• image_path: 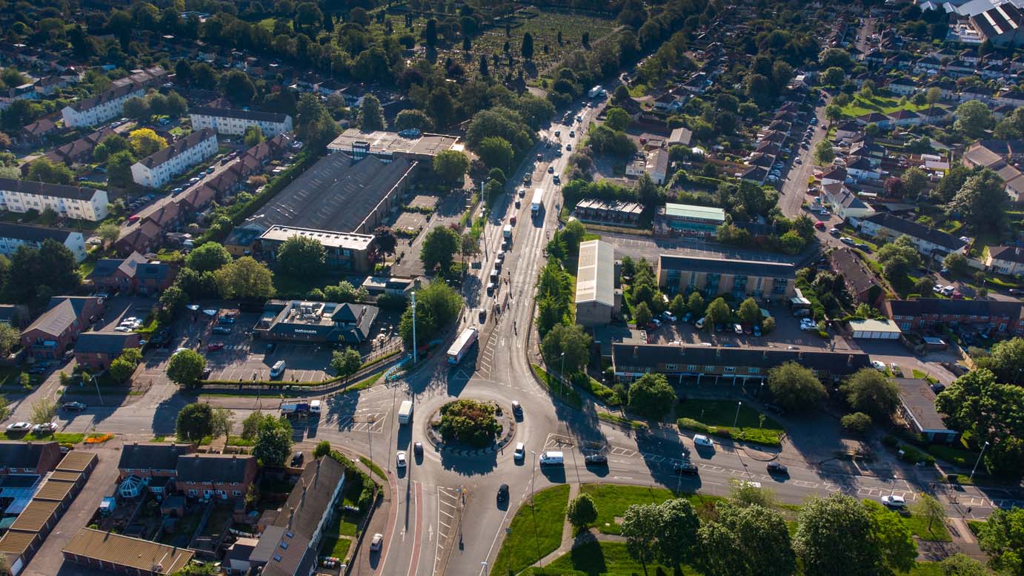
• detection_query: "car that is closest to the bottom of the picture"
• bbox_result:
[368,534,383,553]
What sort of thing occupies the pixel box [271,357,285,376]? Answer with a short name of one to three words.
vehicle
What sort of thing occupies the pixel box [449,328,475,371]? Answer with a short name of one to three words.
truck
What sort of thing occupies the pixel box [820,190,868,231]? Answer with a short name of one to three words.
house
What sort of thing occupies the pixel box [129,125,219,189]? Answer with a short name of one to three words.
building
